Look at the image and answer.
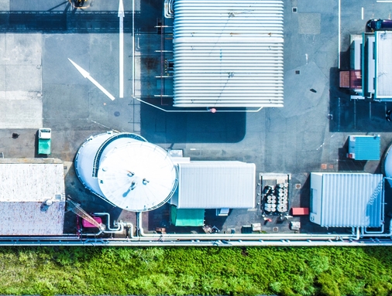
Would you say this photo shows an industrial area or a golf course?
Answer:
industrial area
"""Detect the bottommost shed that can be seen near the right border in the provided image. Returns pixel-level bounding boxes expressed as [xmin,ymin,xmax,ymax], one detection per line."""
[307,171,383,227]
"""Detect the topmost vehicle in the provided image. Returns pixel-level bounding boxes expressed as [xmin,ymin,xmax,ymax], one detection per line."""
[364,17,392,31]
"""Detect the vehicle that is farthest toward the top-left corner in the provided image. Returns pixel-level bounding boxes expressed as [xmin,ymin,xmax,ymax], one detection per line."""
[35,128,50,155]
